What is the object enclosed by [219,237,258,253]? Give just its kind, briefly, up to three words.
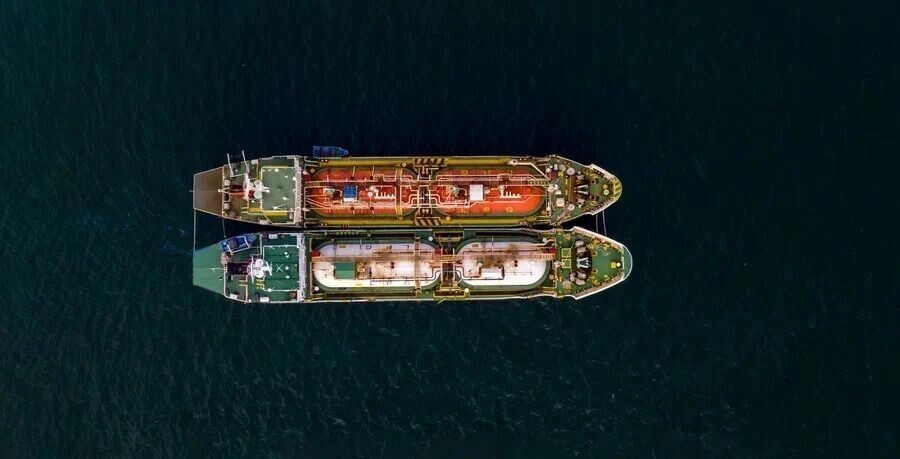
boat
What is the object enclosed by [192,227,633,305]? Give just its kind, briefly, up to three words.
ship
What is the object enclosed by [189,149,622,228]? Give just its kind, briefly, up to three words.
ship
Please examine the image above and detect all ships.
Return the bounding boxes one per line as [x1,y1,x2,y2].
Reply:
[189,149,622,228]
[192,227,633,305]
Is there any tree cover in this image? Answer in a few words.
No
